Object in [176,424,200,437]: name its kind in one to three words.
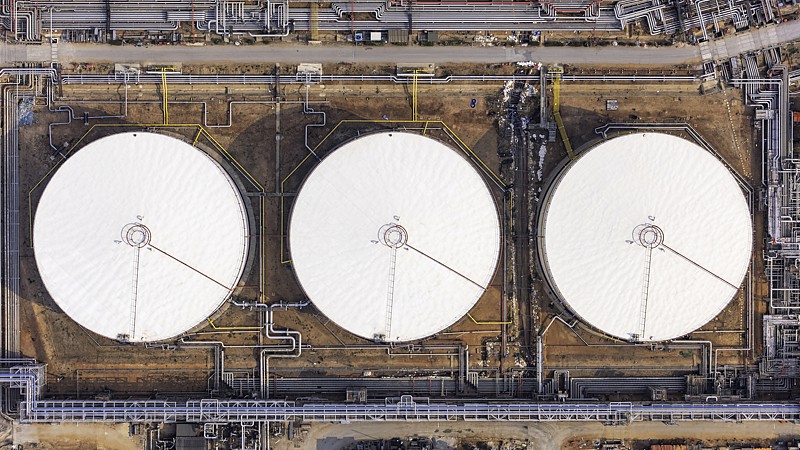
shed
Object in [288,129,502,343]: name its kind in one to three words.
storage tank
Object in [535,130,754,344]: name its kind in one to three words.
storage tank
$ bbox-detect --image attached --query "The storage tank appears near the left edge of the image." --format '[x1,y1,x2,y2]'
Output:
[33,129,253,343]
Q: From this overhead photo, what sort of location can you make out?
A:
industrial area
